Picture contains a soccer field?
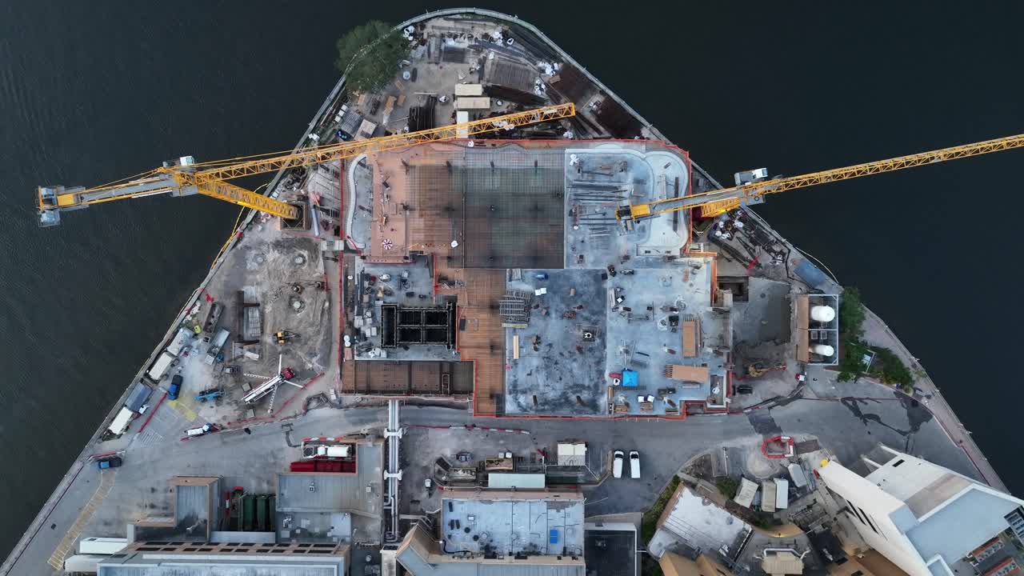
No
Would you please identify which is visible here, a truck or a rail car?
truck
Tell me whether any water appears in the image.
Yes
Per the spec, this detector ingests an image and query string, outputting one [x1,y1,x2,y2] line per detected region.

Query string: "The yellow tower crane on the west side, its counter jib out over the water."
[36,102,576,227]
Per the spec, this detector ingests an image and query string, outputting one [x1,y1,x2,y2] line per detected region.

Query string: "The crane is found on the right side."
[625,134,1024,233]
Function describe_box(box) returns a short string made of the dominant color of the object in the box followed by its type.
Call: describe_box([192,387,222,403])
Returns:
blue work vehicle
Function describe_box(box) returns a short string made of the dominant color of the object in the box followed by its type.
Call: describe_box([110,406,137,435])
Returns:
white truck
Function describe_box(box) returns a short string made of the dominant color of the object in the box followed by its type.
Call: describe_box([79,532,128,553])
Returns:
white trailer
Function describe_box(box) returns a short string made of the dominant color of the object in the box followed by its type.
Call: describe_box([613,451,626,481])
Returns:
white vehicle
